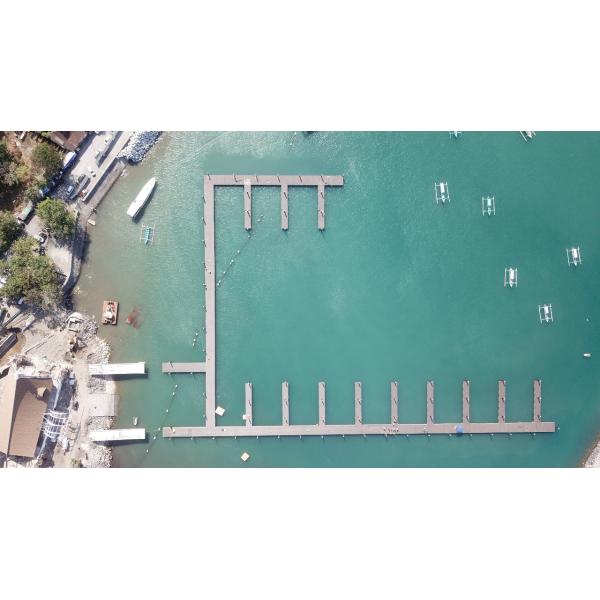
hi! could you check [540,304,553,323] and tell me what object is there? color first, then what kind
white boat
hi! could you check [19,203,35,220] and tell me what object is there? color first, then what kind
white vehicle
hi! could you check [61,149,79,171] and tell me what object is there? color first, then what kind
white vehicle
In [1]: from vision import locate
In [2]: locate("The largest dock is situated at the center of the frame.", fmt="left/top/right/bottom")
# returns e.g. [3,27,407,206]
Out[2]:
[162,176,555,438]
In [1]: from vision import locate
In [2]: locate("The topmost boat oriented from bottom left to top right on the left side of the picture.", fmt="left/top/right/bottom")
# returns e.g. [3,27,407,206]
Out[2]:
[126,178,156,218]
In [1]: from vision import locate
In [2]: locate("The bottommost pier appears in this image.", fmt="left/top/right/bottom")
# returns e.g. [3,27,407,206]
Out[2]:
[90,428,146,442]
